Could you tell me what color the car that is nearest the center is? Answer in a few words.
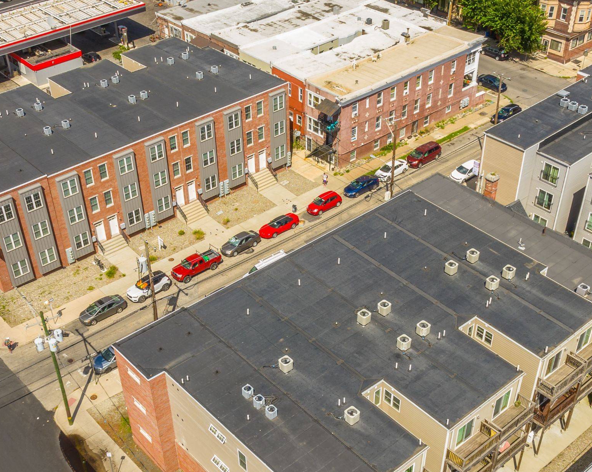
red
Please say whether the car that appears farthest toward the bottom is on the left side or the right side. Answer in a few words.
left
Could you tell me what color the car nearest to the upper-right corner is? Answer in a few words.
black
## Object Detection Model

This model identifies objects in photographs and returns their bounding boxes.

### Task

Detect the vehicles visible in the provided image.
[491,100,522,122]
[475,76,511,94]
[81,348,116,383]
[168,244,224,287]
[305,190,344,217]
[448,160,477,184]
[78,294,131,328]
[258,214,302,242]
[373,160,411,184]
[218,230,263,260]
[84,51,106,64]
[479,43,511,63]
[342,175,382,200]
[233,236,287,278]
[404,139,445,169]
